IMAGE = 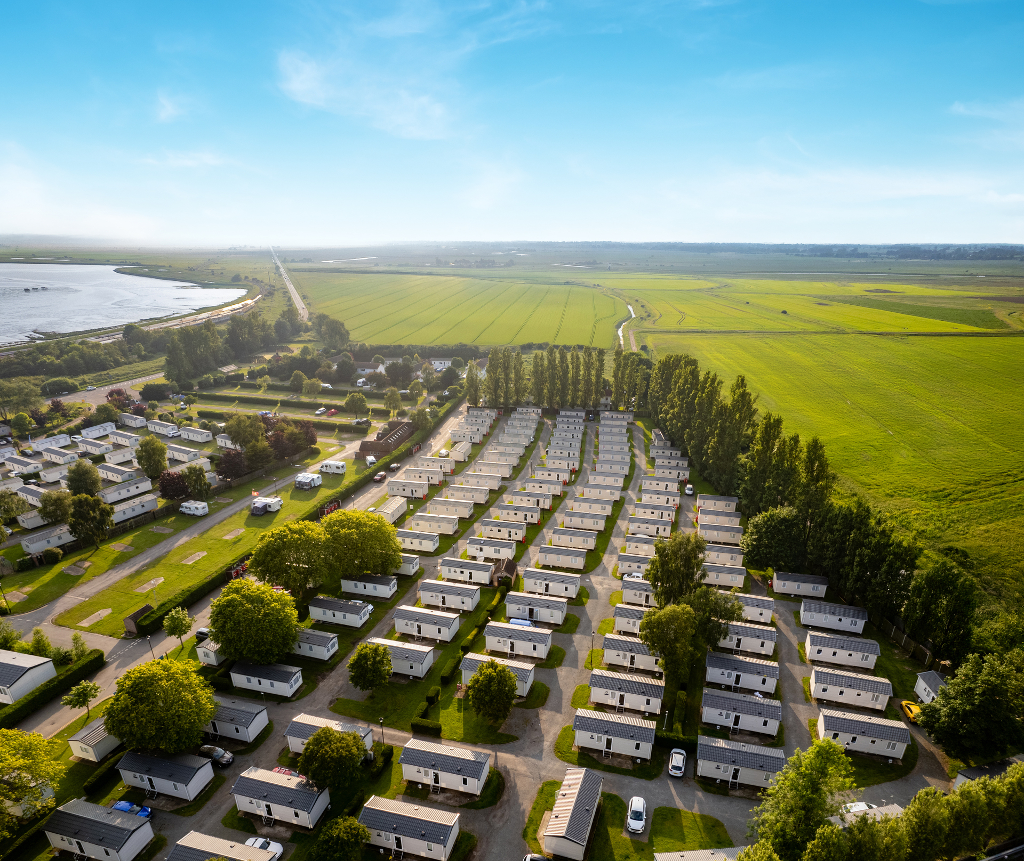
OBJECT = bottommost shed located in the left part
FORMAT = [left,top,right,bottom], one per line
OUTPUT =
[125,603,161,632]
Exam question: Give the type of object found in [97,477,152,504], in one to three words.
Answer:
camper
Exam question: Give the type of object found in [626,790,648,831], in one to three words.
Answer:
car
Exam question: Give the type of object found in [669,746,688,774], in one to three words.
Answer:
car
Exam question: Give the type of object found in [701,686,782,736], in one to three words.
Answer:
camper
